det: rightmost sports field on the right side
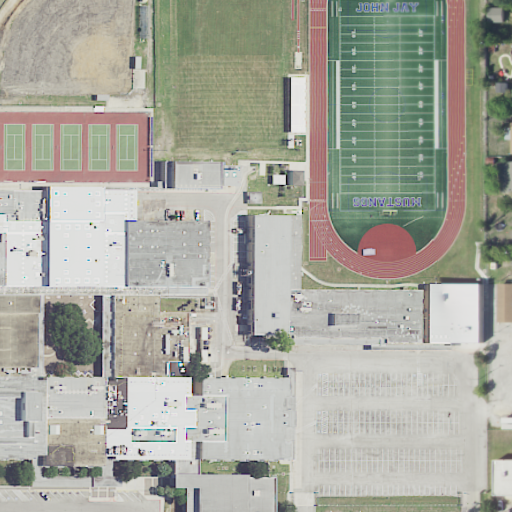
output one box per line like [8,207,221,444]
[328,0,447,259]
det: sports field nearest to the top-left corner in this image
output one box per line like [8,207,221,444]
[154,0,288,160]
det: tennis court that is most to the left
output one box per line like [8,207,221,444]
[4,124,26,171]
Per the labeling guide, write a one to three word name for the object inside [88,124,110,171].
tennis court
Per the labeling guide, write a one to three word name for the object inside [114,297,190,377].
building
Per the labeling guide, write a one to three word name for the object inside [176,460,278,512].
building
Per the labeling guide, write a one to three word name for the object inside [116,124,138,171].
tennis court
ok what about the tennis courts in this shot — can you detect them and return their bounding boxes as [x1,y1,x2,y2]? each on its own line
[60,124,82,171]
[32,124,54,171]
[4,124,26,171]
[88,124,110,171]
[116,124,138,171]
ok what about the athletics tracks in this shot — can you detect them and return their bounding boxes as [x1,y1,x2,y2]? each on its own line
[309,0,466,278]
